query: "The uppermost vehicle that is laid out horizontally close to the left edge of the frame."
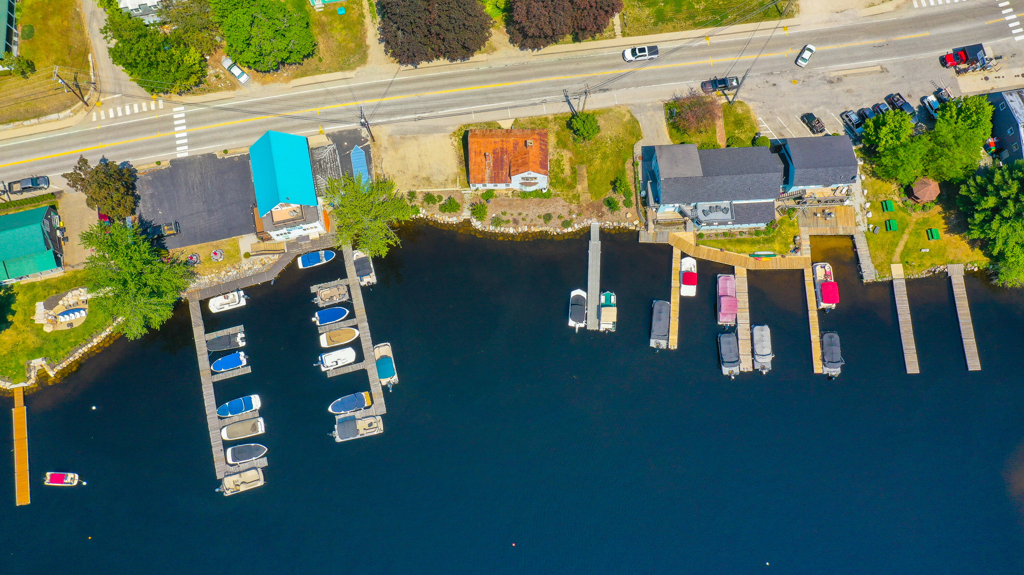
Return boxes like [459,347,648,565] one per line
[4,175,51,195]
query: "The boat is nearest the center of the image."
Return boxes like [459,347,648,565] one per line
[569,288,587,334]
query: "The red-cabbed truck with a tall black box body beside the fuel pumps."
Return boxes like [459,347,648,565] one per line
[940,38,994,69]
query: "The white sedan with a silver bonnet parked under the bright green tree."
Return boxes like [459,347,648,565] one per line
[222,58,249,82]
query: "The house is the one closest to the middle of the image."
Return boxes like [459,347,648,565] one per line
[468,129,549,195]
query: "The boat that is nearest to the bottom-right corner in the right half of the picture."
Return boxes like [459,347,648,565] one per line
[819,330,843,377]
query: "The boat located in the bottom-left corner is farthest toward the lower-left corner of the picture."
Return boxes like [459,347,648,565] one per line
[39,472,81,487]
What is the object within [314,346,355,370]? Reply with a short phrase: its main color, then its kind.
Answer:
white boat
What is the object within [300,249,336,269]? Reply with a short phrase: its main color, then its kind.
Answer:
blue boat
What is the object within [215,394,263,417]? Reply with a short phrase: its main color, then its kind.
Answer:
blue boat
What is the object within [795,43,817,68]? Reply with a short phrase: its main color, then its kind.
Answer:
white car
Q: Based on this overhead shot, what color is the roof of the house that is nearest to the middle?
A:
orange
